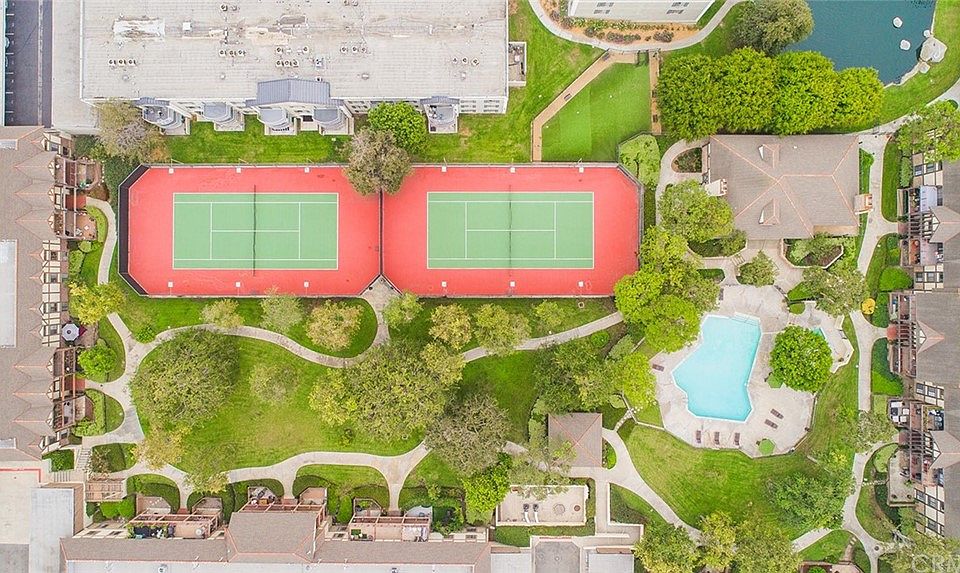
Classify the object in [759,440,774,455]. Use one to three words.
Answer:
umbrella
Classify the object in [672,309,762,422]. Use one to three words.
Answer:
swimming pool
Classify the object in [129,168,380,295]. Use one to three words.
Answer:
tennis court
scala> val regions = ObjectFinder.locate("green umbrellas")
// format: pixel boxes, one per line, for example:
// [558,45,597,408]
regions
[759,440,774,455]
[766,374,779,388]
